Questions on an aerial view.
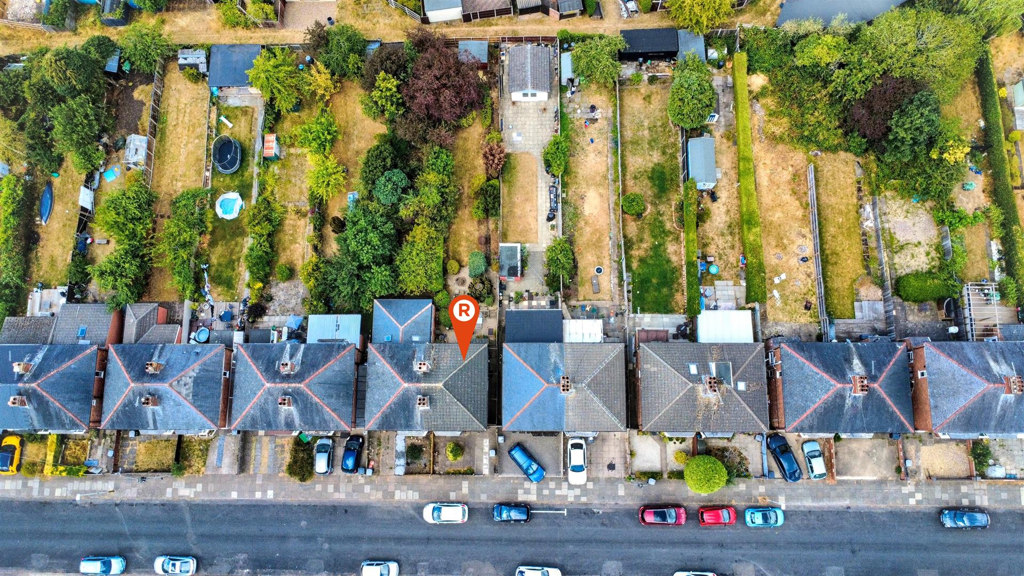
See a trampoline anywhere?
Yes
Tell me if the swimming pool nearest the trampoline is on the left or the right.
left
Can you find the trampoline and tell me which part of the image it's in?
top left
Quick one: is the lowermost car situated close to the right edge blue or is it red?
blue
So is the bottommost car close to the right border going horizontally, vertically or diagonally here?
horizontally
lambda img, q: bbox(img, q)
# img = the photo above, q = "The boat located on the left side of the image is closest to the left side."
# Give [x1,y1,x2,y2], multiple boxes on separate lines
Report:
[38,181,55,226]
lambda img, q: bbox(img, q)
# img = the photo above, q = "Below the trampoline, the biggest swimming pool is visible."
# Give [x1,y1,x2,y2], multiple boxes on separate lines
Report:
[215,191,245,219]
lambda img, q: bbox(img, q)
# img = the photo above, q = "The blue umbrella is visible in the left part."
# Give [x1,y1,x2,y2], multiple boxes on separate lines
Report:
[285,313,304,332]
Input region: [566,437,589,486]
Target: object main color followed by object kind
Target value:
white car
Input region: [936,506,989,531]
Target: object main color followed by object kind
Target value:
blue car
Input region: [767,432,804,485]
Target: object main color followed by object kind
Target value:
blue car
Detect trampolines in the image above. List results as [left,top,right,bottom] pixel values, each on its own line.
[207,129,241,174]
